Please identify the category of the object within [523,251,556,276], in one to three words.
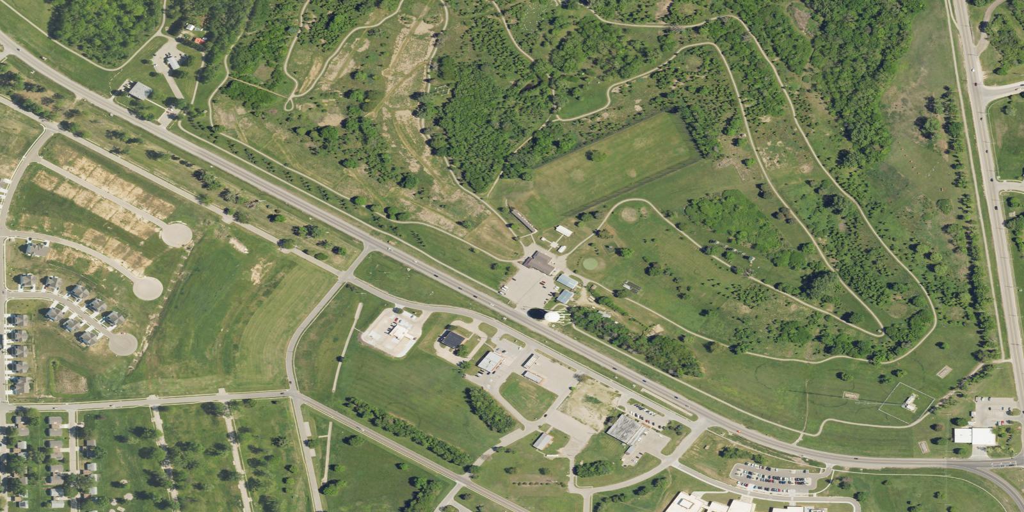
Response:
building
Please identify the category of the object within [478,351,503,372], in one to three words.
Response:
building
